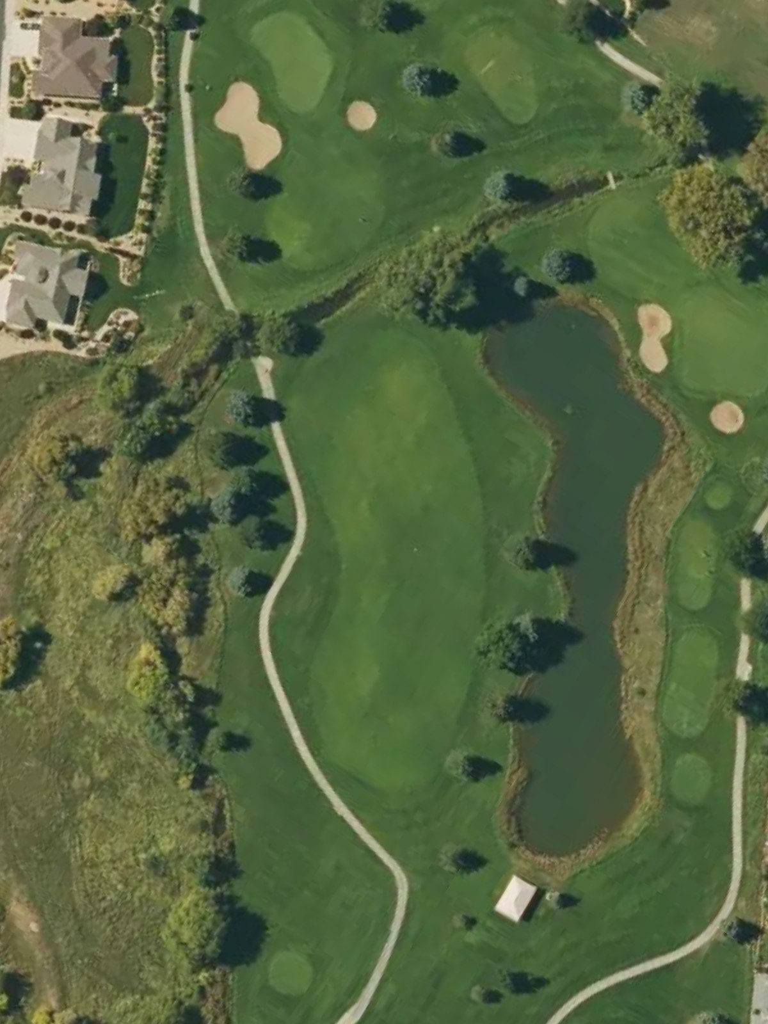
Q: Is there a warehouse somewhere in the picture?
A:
No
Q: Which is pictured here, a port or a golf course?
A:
golf course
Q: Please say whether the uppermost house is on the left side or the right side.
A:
left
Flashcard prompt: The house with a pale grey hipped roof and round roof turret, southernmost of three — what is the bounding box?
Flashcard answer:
[5,240,88,328]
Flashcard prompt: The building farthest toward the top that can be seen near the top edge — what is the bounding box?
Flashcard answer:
[30,15,117,97]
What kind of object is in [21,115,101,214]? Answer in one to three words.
house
